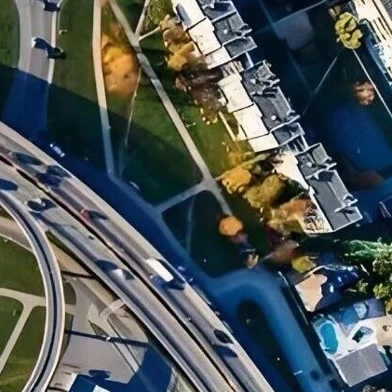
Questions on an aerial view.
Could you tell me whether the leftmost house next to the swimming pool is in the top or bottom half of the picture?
bottom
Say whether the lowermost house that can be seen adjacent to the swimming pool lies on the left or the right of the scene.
right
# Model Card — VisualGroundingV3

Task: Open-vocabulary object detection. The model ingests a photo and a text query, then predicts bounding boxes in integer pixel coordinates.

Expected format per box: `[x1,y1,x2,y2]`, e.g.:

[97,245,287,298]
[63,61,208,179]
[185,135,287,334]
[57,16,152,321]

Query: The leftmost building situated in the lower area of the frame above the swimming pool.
[291,268,351,316]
